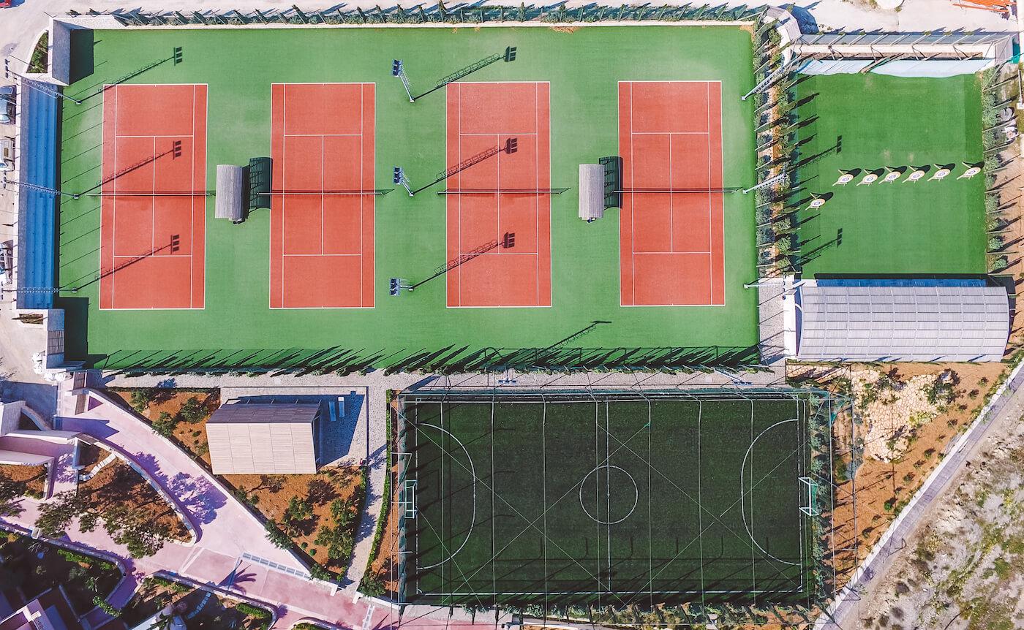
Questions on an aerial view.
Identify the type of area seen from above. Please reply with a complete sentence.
The picture captures a sports ground.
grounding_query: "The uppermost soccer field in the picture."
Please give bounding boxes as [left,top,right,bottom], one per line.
[406,387,810,605]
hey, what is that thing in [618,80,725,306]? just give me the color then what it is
red tennis court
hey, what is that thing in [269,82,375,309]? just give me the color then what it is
red tennis court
